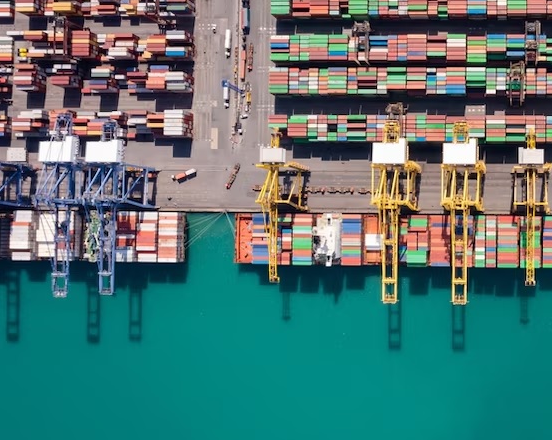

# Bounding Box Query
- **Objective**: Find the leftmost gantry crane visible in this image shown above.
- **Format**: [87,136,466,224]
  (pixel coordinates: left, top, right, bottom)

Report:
[0,158,39,206]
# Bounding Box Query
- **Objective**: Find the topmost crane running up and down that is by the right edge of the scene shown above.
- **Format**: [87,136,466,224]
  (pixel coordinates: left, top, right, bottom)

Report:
[519,21,540,69]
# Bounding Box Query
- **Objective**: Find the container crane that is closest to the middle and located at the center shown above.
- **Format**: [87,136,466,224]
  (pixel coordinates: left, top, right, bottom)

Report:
[255,127,314,283]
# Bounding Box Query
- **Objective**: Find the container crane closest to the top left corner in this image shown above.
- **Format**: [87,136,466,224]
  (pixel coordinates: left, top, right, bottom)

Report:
[50,14,89,63]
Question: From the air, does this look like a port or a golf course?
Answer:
port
